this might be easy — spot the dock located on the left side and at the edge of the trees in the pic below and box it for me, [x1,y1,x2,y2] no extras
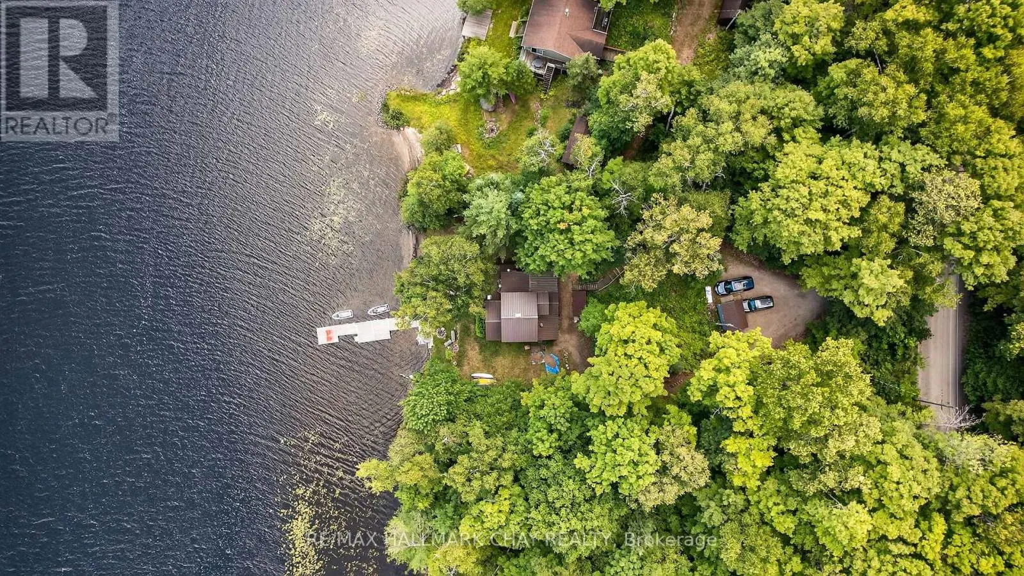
[317,317,424,344]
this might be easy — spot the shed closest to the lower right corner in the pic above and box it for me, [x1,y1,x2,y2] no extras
[714,299,747,329]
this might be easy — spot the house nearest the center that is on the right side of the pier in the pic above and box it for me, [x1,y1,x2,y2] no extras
[486,261,559,342]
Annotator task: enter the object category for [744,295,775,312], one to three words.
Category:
vehicle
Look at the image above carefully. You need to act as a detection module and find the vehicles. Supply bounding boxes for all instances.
[744,295,775,312]
[713,277,754,295]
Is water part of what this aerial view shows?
Yes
